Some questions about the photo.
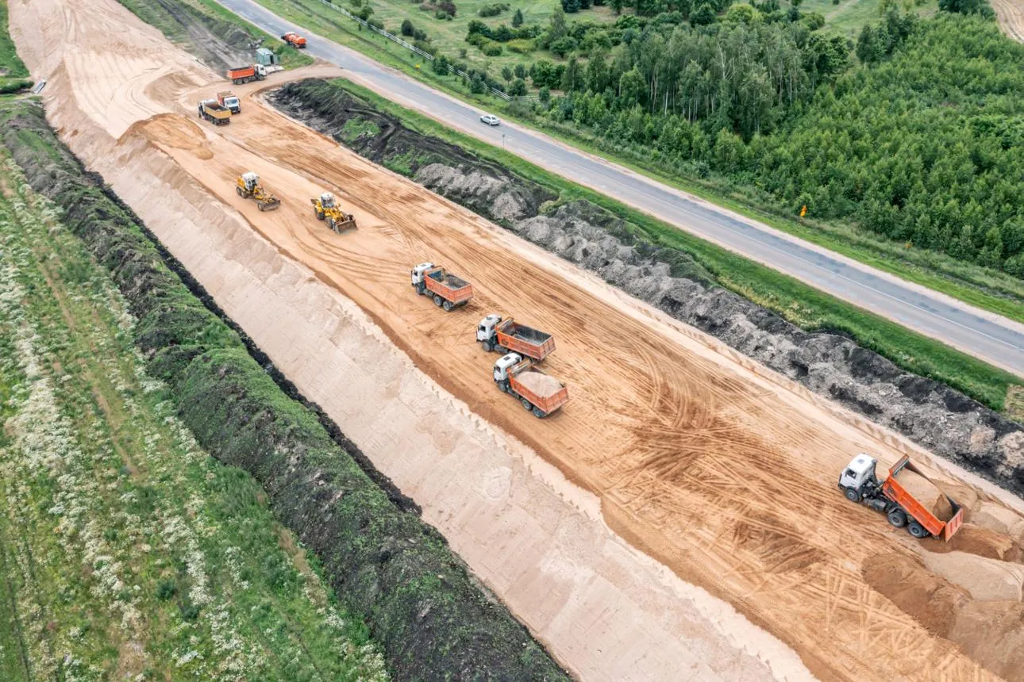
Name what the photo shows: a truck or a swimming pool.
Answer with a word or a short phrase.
truck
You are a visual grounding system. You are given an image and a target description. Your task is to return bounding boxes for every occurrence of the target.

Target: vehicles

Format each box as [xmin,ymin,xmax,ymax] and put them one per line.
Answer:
[489,346,573,417]
[217,94,241,119]
[238,173,284,214]
[837,446,976,544]
[192,96,227,122]
[473,310,554,365]
[315,191,357,236]
[285,28,307,46]
[480,113,501,125]
[226,61,266,83]
[407,257,473,310]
